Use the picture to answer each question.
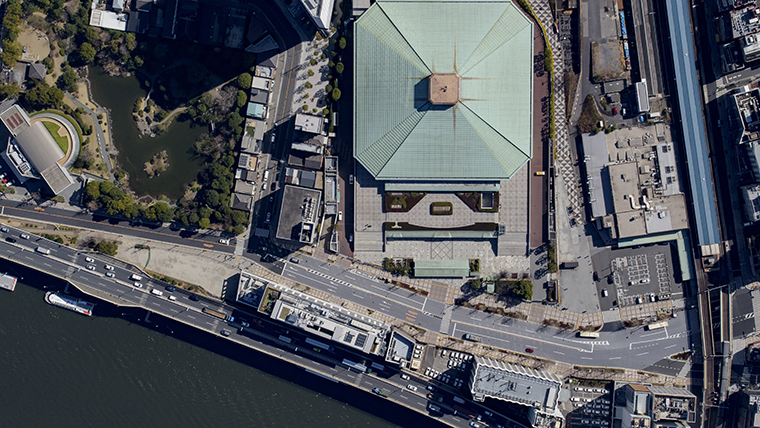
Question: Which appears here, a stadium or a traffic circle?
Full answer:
Looking from above, you can make out a stadium.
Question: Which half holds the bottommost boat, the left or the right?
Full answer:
The bottommost boat is on the left side of the image.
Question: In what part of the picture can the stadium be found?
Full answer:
You can find the stadium in the top area of the picture.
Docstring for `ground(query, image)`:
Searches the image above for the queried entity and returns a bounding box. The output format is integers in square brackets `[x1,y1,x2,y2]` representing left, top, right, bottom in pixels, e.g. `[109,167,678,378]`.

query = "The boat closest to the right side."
[43,292,93,315]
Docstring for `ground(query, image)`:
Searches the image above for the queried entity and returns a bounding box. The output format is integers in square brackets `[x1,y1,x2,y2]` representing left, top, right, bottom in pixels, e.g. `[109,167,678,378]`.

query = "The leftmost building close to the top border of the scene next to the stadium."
[301,0,338,38]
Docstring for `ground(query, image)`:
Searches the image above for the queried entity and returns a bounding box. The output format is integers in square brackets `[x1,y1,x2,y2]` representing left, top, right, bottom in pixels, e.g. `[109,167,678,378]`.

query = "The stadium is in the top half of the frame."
[355,1,532,180]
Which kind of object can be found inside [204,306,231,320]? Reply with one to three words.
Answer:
vehicle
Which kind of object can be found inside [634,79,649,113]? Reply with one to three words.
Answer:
shed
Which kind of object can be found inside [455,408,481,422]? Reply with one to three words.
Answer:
vehicle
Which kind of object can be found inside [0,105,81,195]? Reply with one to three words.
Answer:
building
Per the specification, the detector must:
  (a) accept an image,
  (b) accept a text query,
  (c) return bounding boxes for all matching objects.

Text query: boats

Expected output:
[43,292,93,315]
[0,274,18,293]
